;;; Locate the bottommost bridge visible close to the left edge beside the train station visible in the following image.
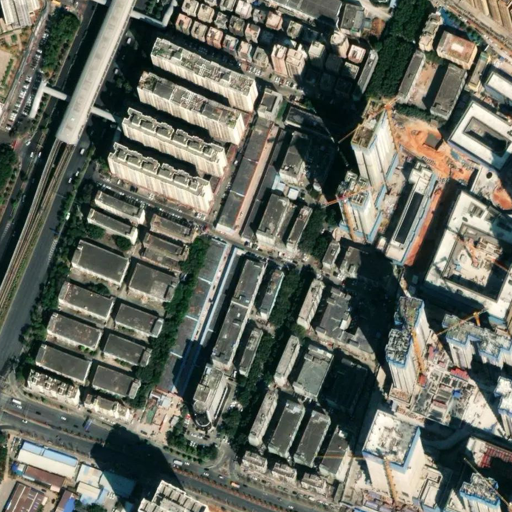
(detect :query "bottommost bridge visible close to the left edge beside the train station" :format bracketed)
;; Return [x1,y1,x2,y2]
[0,140,75,314]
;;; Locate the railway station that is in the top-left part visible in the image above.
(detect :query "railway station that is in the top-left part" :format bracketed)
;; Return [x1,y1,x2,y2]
[56,0,140,146]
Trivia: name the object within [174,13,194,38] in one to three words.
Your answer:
house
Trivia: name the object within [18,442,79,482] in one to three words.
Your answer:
building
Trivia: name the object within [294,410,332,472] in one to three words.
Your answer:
building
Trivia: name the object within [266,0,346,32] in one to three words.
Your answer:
shed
